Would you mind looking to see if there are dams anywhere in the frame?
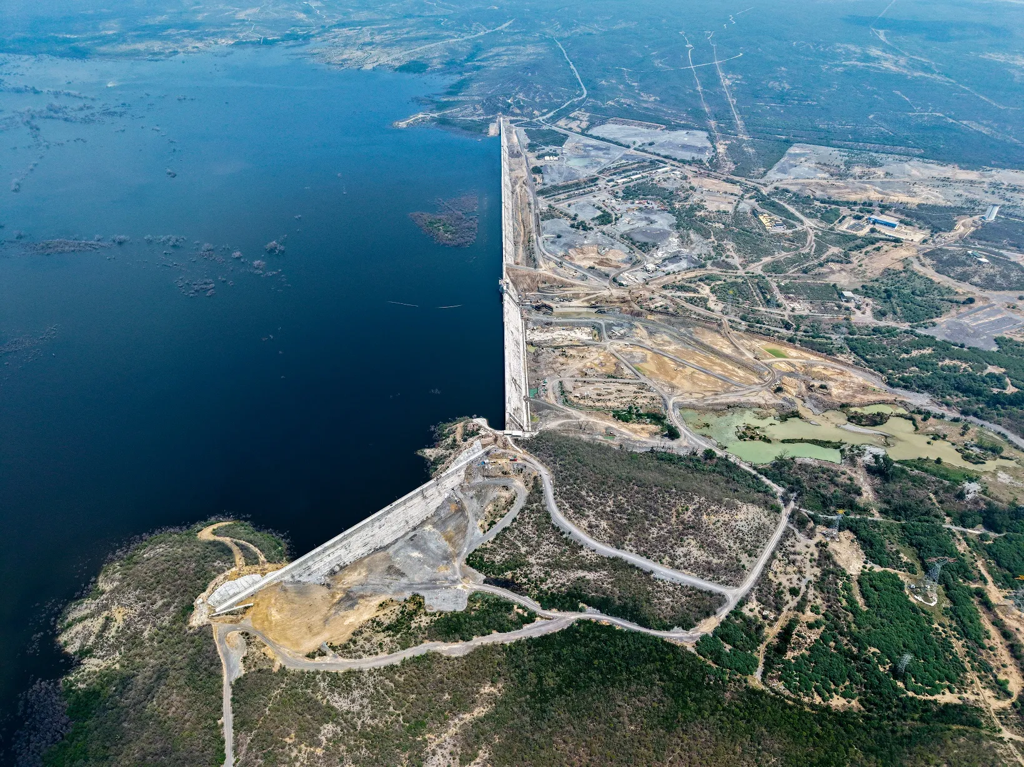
Yes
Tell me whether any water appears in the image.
Yes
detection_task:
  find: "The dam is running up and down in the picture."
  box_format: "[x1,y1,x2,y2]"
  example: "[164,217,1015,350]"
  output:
[501,120,539,432]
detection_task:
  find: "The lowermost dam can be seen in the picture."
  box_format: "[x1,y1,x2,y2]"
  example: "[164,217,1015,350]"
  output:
[218,443,495,615]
